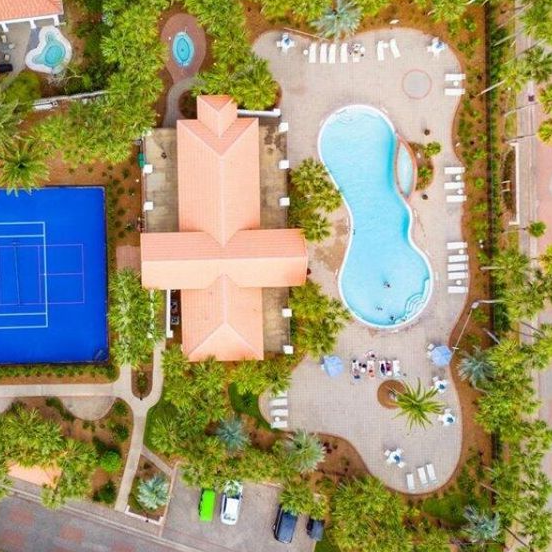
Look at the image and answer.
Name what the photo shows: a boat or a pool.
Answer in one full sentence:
I can see a pool in this picture.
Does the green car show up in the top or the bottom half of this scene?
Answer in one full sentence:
Seen from above, the green car lies in the bottom half of the view.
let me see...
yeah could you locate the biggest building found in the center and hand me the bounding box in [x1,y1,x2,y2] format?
[140,95,313,361]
